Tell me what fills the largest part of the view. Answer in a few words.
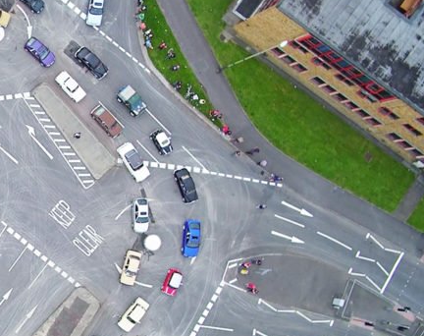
paved ground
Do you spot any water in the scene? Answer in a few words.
No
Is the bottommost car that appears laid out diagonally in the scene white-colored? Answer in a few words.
Yes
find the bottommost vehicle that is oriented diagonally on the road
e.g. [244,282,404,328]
[115,293,149,334]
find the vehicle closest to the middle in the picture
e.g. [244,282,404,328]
[169,167,199,205]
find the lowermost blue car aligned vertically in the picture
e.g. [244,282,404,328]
[179,217,201,259]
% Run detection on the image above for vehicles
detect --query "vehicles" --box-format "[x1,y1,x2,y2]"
[51,68,88,105]
[159,266,183,297]
[0,9,13,31]
[146,127,175,159]
[117,247,141,288]
[179,217,201,259]
[113,139,153,185]
[86,0,106,28]
[130,197,149,235]
[17,0,47,15]
[111,81,149,119]
[21,35,57,71]
[70,44,110,83]
[87,102,124,140]
[169,167,199,205]
[115,293,149,334]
